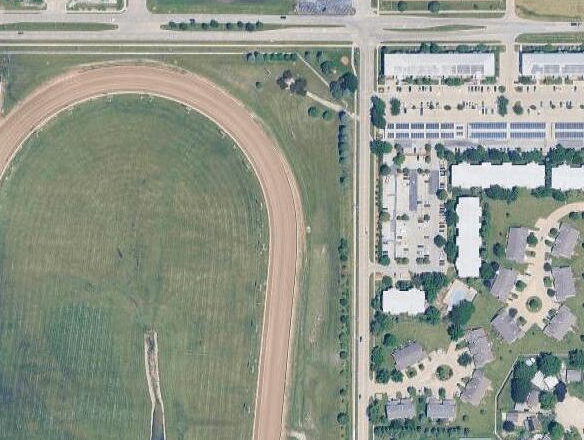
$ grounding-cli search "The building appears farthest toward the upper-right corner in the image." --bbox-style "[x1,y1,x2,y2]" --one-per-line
[521,53,584,76]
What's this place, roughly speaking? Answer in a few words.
sports ground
